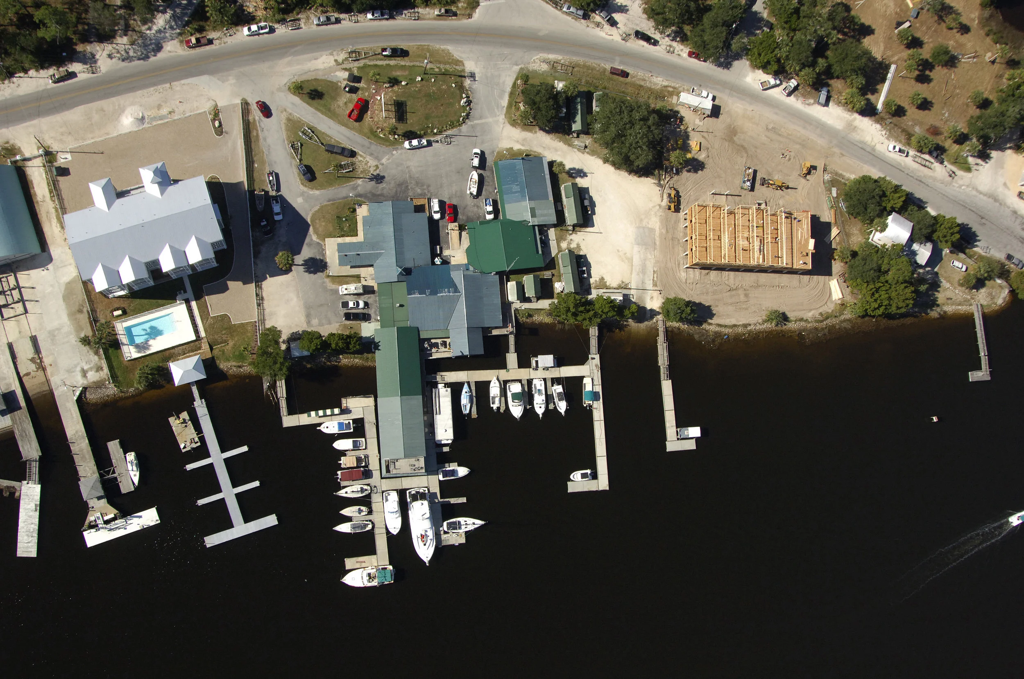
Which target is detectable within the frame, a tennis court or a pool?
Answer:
pool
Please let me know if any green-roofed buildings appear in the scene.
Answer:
Yes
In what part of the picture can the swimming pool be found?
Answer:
left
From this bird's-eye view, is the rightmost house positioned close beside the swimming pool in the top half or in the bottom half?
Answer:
top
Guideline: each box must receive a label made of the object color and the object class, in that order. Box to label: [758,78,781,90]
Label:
white vehicle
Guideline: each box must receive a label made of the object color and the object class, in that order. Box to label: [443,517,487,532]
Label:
white boat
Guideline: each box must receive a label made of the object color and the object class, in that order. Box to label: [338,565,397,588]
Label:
white boat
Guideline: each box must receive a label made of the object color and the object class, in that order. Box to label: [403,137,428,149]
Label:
white vehicle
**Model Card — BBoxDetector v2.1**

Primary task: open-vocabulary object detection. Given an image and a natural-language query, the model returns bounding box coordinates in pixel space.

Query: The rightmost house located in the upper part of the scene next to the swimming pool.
[63,161,231,298]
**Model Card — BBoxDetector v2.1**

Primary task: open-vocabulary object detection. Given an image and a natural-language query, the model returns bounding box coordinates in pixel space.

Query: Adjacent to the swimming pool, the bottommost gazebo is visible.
[169,355,208,386]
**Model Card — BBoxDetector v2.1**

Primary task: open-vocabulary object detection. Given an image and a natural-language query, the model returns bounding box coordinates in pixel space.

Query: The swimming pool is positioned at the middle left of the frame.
[115,302,196,360]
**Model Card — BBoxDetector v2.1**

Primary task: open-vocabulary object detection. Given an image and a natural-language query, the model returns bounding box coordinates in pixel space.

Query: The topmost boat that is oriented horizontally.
[528,355,557,368]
